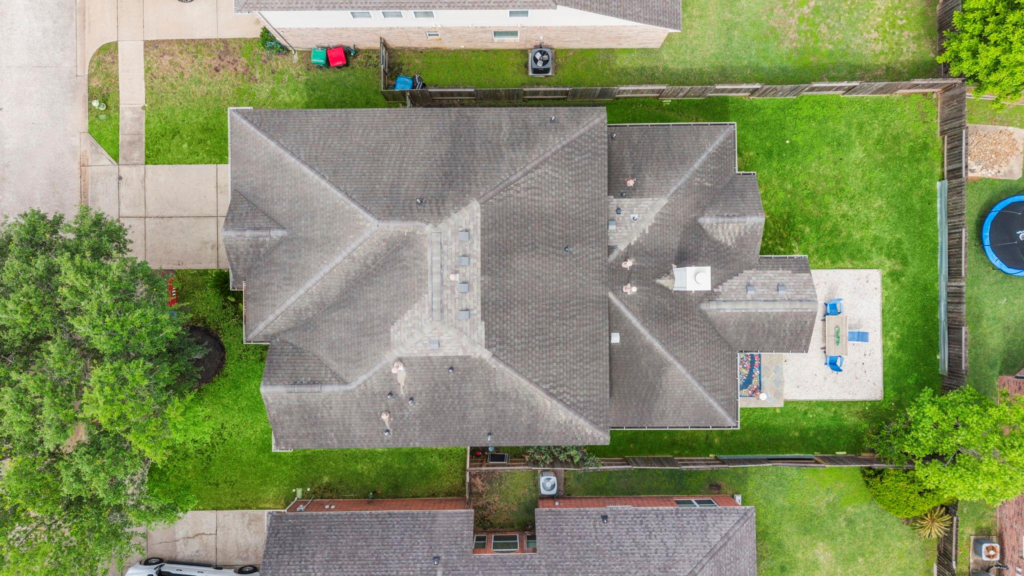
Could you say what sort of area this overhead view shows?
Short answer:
residential area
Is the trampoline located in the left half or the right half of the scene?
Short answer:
right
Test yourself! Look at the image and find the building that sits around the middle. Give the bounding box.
[222,104,819,453]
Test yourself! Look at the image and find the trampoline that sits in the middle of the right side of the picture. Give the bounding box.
[964,192,1024,280]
